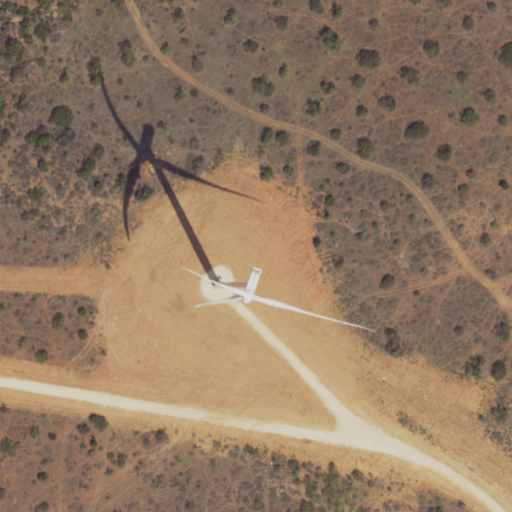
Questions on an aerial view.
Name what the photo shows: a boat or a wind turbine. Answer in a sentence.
The one in the frame is a wind turbine.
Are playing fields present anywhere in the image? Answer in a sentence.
No, I find no playing field anywhere in the image.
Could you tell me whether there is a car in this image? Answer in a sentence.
No, there appears to be no car in this shot.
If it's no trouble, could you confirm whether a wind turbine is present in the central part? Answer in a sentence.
Yes, a wind turbine is visible in the central part.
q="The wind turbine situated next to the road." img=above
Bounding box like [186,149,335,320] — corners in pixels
[193,260,376,334]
